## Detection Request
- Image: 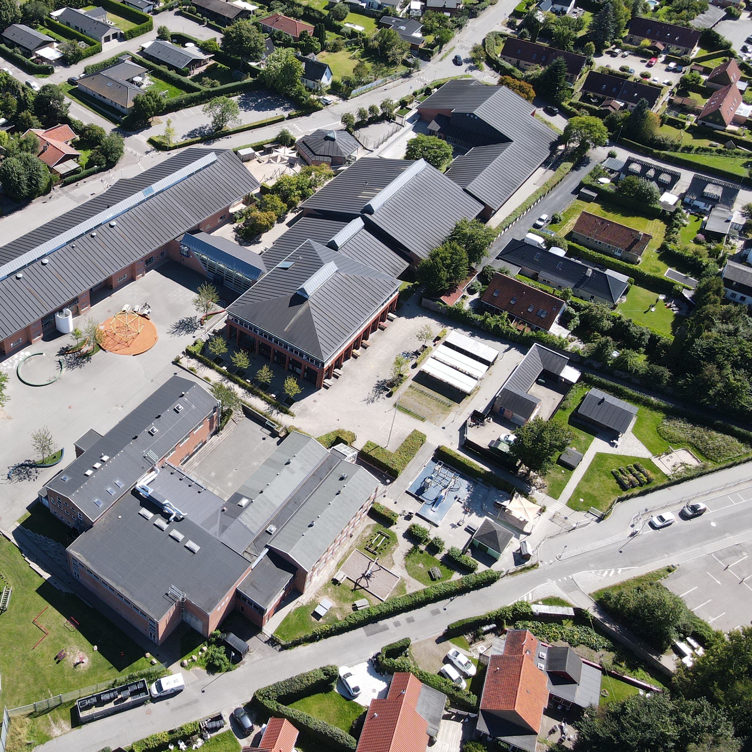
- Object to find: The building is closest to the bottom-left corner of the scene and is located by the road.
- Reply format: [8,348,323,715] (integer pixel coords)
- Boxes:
[75,681,150,725]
